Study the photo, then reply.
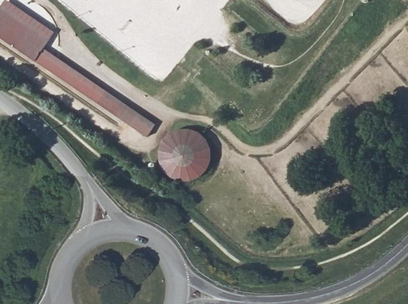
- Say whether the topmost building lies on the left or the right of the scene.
left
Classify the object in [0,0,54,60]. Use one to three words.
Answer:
building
